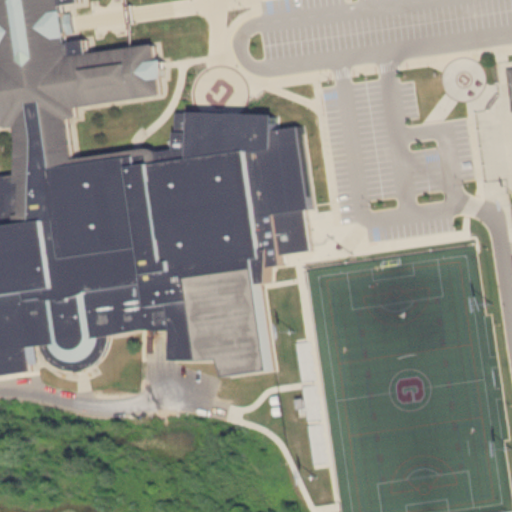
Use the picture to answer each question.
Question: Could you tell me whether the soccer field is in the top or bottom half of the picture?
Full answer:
You can find the soccer field in the bottom half.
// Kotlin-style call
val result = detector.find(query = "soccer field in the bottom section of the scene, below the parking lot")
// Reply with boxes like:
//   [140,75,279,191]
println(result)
[308,244,512,512]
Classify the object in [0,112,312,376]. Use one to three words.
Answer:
building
